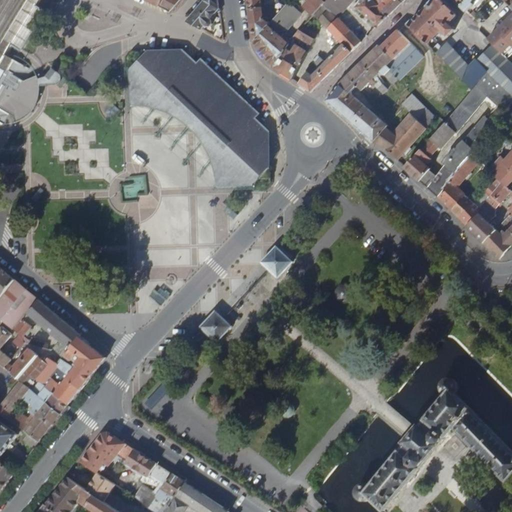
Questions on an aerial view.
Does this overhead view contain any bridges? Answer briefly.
Yes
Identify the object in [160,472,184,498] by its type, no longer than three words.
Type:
house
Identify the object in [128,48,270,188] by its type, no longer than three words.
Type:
building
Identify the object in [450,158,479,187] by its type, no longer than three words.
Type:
building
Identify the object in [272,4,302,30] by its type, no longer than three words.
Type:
house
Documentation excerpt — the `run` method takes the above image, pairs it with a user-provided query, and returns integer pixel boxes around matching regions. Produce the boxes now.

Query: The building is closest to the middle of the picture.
[260,246,292,278]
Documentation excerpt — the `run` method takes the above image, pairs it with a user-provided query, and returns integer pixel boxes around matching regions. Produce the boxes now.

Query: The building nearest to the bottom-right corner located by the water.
[350,380,512,510]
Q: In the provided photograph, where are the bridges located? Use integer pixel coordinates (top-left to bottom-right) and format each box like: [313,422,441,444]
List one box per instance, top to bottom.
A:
[374,400,412,438]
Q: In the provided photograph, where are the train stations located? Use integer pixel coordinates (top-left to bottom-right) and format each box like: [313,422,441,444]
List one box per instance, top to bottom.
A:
[0,0,60,126]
